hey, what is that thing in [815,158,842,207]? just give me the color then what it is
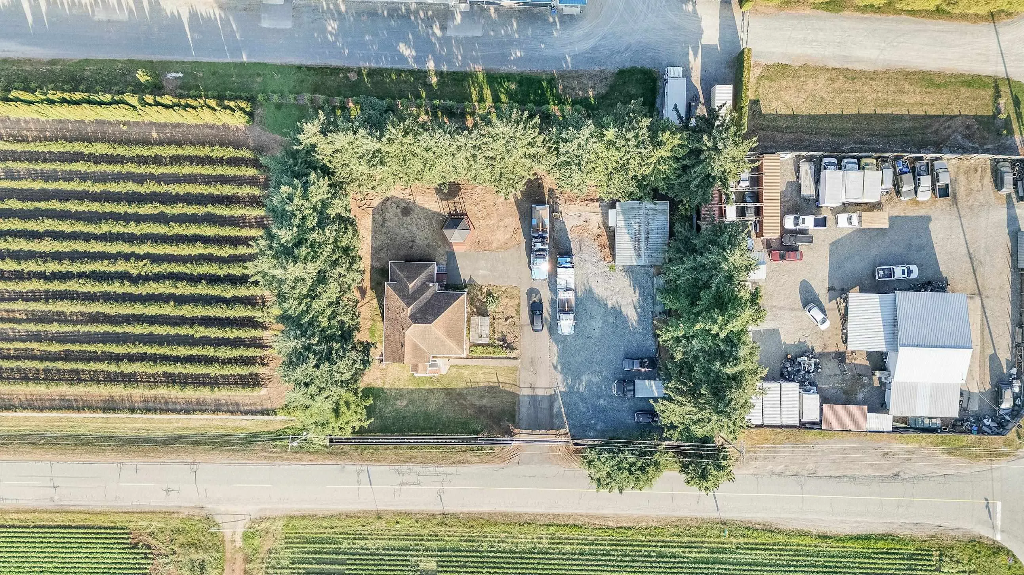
white truck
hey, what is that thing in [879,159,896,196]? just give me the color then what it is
white vehicle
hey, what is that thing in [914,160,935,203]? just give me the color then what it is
white truck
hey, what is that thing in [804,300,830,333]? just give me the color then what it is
white car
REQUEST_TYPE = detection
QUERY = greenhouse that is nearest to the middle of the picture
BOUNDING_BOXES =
[470,317,490,343]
